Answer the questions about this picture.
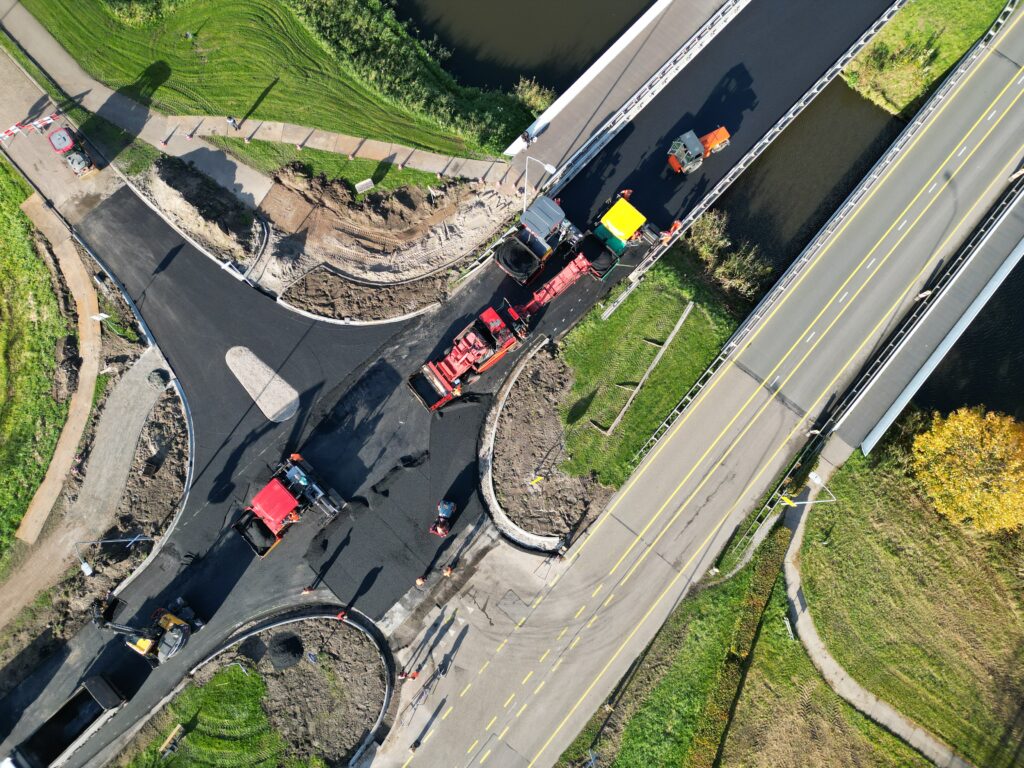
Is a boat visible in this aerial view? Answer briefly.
No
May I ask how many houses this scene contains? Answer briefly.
0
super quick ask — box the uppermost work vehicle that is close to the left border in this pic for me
[47,129,103,185]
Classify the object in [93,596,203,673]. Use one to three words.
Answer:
work vehicle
